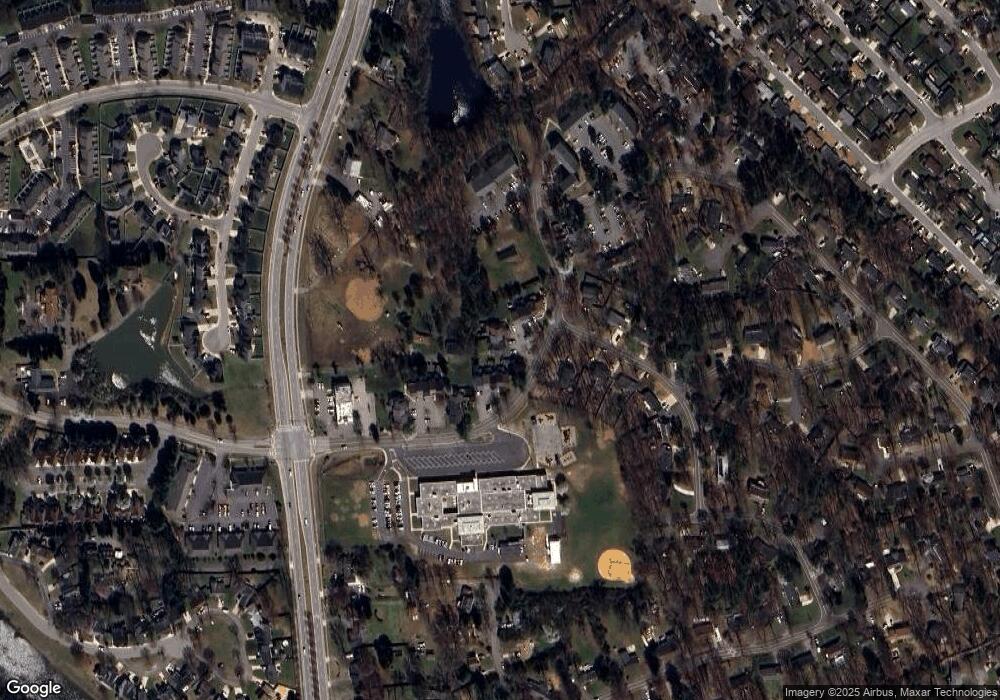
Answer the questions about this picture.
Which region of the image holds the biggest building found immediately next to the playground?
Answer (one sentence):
You can find the biggest building found immediately next to the playground in the bottom area of the picture.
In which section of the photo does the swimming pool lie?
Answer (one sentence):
Look in the top left portion of the view to spot the swimming pool.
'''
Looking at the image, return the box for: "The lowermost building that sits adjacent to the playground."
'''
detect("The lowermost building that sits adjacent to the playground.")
[417,474,556,546]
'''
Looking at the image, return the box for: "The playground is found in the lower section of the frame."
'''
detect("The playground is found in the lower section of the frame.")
[533,413,576,468]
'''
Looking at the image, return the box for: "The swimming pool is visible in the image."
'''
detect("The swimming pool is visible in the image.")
[20,139,45,169]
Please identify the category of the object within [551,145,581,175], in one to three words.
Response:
building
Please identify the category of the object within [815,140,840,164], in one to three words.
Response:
house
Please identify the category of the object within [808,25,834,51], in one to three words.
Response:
house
